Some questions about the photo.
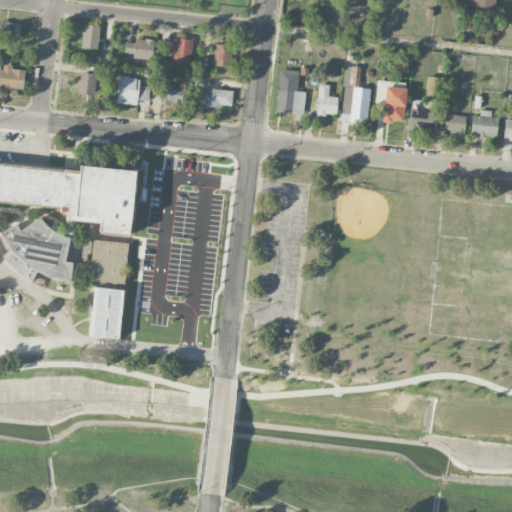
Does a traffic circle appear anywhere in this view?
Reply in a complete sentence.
No, the frame has no traffic circle in it.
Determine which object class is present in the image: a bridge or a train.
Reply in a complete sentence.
This aerial view contains a bridge.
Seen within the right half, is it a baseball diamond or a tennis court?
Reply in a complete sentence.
What appears within the right half is a baseball diamond.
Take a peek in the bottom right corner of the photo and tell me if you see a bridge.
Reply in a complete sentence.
No, looking in the bottom right corner of the photo, there is no bridge.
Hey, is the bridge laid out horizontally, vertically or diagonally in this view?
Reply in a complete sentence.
I'd say the bridge is aligned vertically in the picture.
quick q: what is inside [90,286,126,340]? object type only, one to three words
building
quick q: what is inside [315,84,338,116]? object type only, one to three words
house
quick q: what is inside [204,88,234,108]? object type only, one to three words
house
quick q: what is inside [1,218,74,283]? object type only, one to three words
building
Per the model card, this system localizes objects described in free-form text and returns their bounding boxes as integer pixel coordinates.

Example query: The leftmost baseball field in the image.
[330,186,418,268]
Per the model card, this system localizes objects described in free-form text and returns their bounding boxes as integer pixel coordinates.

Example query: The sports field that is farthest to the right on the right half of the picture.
[430,199,512,343]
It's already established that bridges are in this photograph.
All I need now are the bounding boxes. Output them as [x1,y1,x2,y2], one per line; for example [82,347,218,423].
[197,364,239,498]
